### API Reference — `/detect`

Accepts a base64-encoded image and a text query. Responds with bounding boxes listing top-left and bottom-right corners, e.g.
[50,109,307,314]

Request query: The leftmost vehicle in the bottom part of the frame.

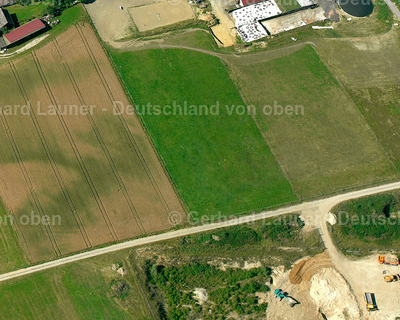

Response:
[275,288,298,308]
